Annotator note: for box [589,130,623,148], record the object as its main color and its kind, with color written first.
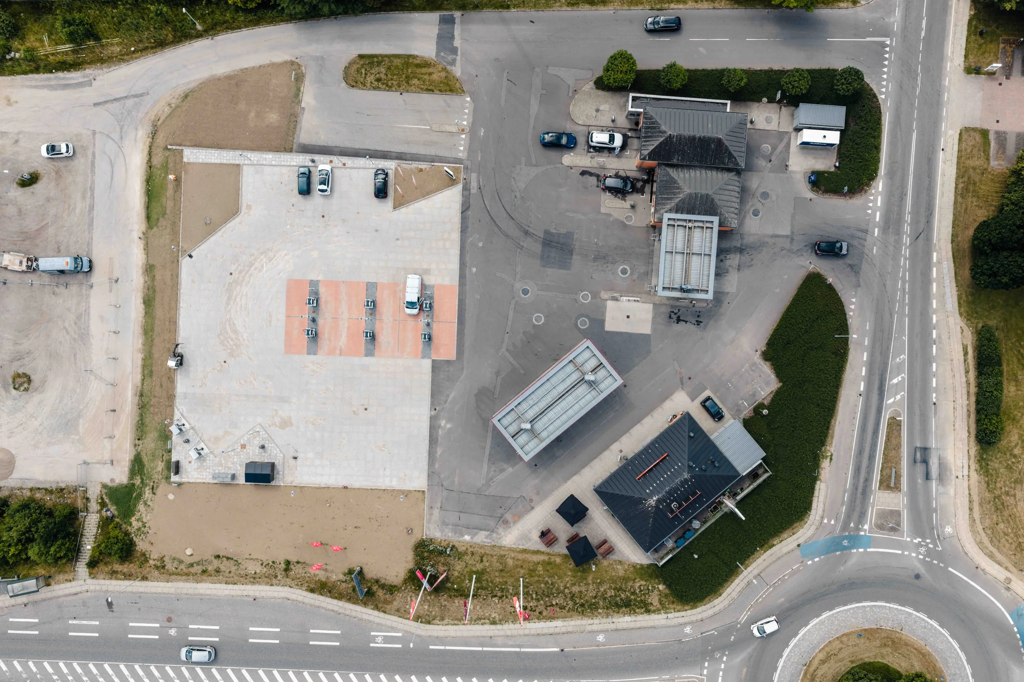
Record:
white car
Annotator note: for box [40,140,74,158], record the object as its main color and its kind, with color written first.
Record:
white car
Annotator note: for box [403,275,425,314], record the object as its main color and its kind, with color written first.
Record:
white vehicle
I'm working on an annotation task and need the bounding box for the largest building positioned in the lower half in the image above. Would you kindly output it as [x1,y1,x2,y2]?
[593,411,741,554]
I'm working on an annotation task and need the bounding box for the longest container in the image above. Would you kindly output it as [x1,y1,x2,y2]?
[792,102,846,131]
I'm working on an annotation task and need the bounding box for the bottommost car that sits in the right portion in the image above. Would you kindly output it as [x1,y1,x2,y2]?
[751,616,780,638]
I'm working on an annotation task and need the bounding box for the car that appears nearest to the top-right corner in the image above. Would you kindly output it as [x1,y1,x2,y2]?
[814,239,848,257]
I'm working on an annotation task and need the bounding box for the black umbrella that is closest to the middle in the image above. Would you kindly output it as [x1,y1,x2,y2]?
[556,494,589,527]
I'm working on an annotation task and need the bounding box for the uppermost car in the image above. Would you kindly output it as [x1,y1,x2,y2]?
[644,13,681,32]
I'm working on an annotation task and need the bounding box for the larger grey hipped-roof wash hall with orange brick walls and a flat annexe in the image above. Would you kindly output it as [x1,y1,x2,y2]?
[626,93,748,168]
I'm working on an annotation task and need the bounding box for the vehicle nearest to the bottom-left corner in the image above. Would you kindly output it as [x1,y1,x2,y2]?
[181,646,215,664]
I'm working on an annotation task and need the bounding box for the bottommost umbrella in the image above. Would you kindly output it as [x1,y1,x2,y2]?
[566,536,598,567]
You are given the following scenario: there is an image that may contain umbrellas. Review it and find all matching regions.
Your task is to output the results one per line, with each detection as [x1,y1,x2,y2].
[566,536,598,567]
[556,494,589,527]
